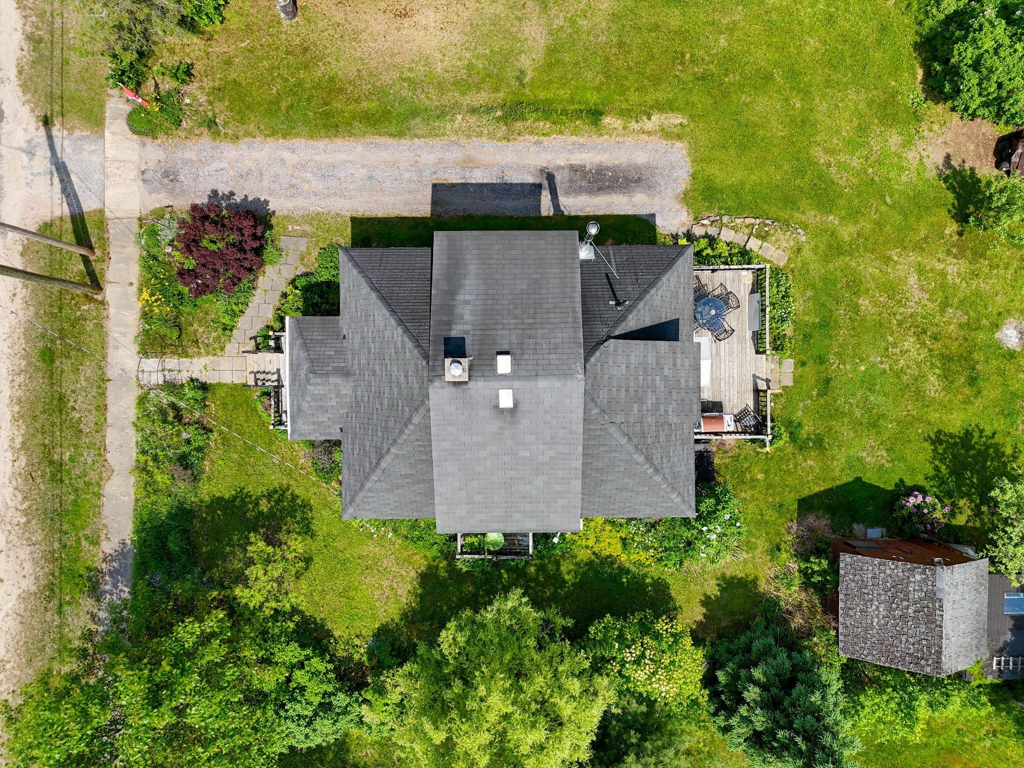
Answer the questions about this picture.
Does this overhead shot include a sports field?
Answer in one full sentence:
No, this view has no sports field in it.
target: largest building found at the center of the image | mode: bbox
[285,221,702,544]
